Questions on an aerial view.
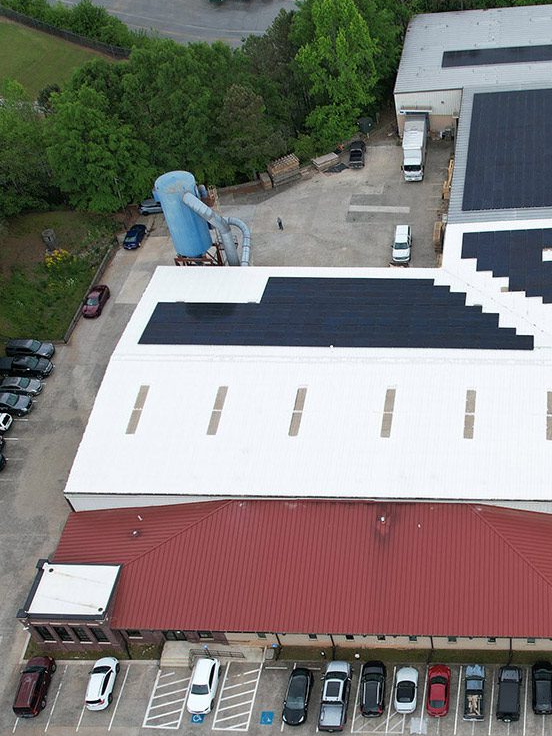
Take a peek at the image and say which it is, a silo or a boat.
silo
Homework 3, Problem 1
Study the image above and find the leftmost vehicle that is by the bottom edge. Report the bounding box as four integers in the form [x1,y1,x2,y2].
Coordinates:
[11,657,55,719]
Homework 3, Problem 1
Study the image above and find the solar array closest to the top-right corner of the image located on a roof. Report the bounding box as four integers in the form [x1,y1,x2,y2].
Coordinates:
[441,43,552,66]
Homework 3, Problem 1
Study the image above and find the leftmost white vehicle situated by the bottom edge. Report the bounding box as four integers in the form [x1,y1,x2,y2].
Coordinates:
[83,656,122,713]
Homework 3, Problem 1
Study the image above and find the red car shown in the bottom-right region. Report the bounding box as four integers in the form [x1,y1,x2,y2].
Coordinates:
[425,664,453,721]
